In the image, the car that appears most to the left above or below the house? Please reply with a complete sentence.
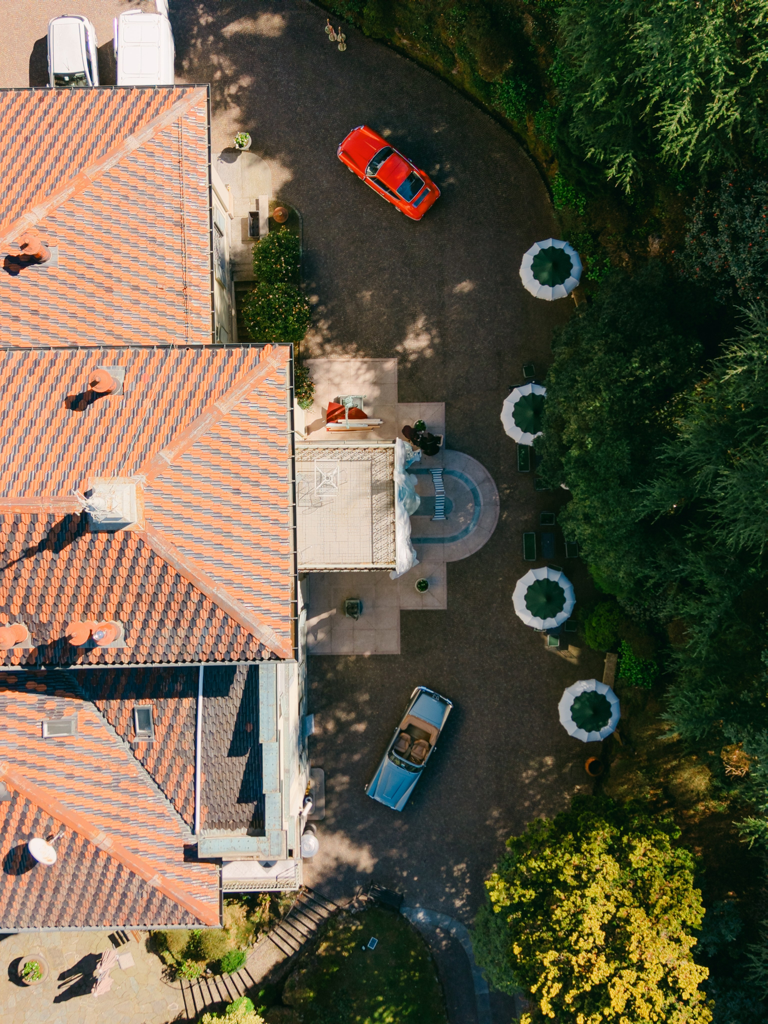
Looking at the scene, the car that appears most to the left is located above the house.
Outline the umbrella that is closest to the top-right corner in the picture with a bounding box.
[519,243,579,303]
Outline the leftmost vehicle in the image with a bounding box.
[50,21,104,83]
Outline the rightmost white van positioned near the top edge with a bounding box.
[117,0,185,82]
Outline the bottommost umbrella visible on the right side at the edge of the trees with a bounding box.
[556,678,616,737]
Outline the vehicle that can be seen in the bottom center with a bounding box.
[368,691,454,815]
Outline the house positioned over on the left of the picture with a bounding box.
[0,79,399,934]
